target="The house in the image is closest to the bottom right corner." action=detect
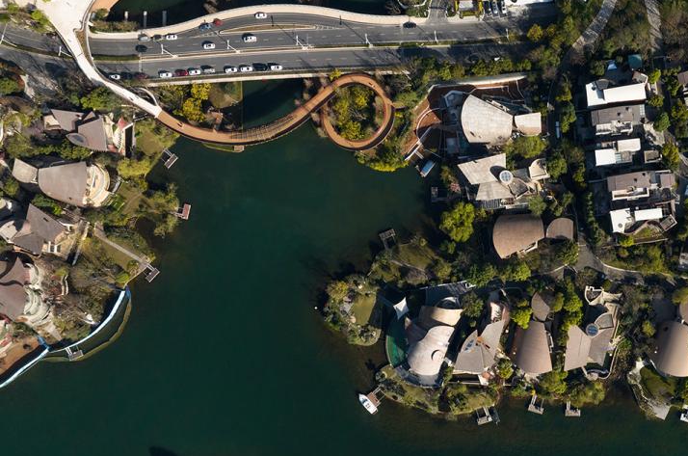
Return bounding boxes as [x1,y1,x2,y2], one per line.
[646,303,688,378]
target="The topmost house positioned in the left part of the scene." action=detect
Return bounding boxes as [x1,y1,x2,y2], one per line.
[44,110,141,156]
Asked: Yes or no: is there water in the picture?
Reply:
Yes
